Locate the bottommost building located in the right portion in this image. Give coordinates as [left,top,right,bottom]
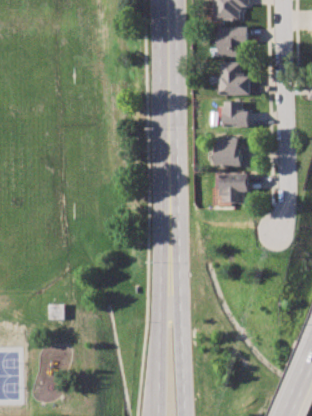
[216,172,248,206]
